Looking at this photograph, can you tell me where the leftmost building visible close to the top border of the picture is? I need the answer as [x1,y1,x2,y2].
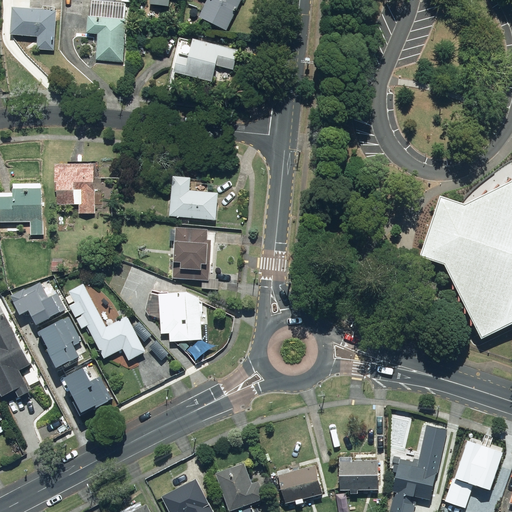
[10,6,55,50]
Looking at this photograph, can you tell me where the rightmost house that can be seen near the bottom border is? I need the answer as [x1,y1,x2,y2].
[445,442,504,510]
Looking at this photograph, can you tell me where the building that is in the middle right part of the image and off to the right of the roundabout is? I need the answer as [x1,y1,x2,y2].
[422,178,512,340]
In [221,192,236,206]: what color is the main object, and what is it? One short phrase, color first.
white vehicle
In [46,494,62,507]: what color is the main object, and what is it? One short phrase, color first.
white vehicle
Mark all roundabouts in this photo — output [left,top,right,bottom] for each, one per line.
[242,302,338,394]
